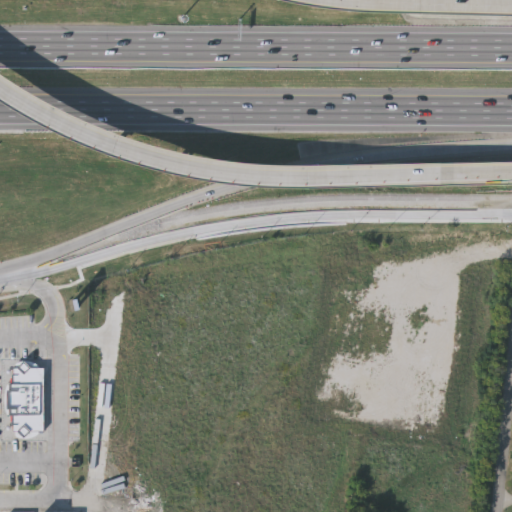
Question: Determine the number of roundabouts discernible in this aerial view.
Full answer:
There are no roundabouts in this view.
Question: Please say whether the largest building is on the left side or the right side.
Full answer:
The largest building appears in the left half of the scene.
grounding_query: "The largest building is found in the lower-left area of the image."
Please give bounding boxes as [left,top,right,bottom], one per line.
[4,361,44,438]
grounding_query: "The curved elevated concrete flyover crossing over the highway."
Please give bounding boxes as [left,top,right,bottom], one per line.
[0,74,512,188]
